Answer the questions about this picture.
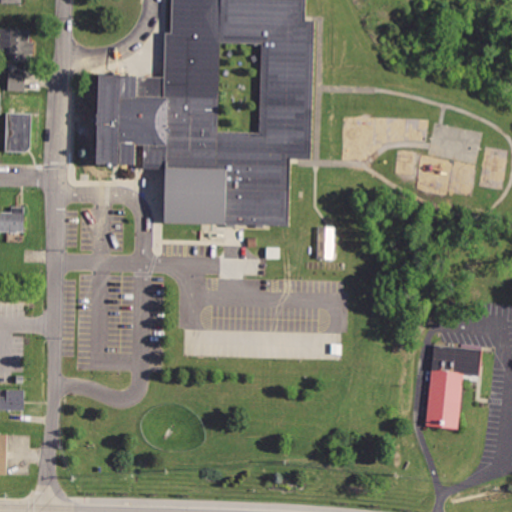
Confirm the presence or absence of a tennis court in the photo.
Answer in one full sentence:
No, I find no tennis court anywhere in the image.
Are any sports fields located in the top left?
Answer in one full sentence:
No, I can find no sports field in the top left.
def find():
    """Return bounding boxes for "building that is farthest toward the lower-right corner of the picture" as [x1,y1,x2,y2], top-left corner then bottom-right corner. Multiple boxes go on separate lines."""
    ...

[428,344,482,430]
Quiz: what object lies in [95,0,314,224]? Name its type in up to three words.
building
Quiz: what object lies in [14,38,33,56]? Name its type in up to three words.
house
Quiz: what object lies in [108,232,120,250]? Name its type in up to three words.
vehicle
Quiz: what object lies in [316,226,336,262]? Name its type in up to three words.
shed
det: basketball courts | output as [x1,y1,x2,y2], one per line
[429,123,482,165]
